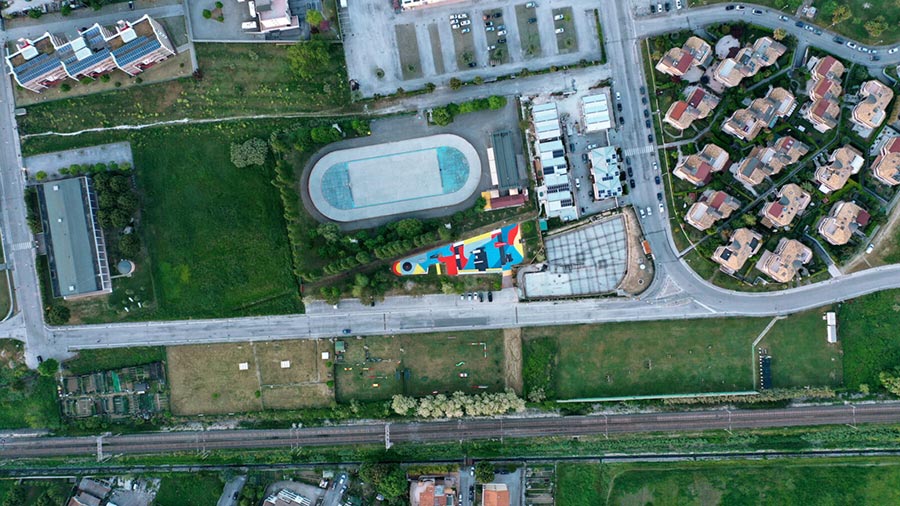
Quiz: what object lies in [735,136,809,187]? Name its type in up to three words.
house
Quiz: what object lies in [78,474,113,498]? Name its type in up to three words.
house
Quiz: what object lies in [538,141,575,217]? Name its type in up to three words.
building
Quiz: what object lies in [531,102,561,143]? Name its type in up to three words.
building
